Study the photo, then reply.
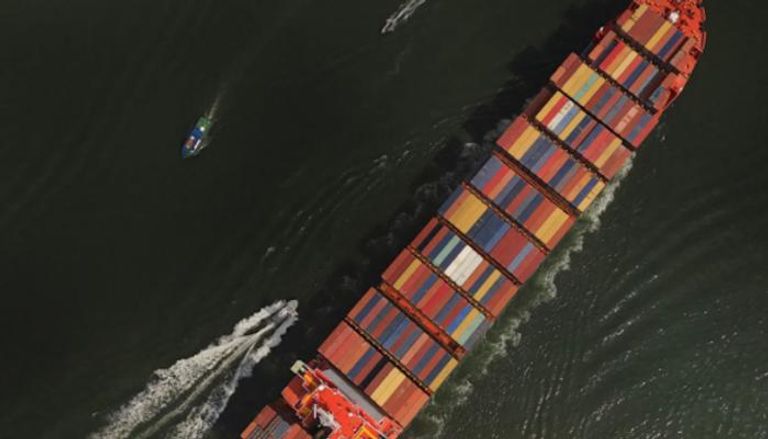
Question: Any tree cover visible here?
No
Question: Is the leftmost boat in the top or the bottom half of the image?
top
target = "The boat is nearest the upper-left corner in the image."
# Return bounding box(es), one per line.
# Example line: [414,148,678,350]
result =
[181,113,212,157]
